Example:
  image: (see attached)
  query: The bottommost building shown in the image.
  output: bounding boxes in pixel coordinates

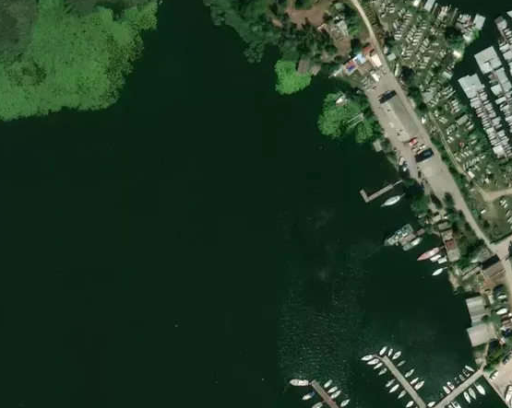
[467,323,496,346]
